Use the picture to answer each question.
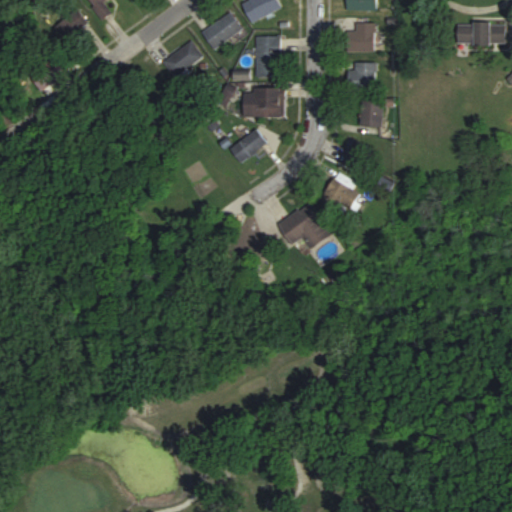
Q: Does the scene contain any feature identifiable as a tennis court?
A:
No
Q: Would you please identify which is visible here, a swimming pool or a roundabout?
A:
swimming pool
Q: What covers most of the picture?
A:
trees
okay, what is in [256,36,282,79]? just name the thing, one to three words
house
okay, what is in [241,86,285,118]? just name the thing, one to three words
house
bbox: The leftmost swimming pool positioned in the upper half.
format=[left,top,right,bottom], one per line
[240,54,254,68]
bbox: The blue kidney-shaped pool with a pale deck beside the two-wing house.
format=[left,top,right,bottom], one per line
[310,234,346,267]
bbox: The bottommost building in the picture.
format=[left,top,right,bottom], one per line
[276,206,332,254]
